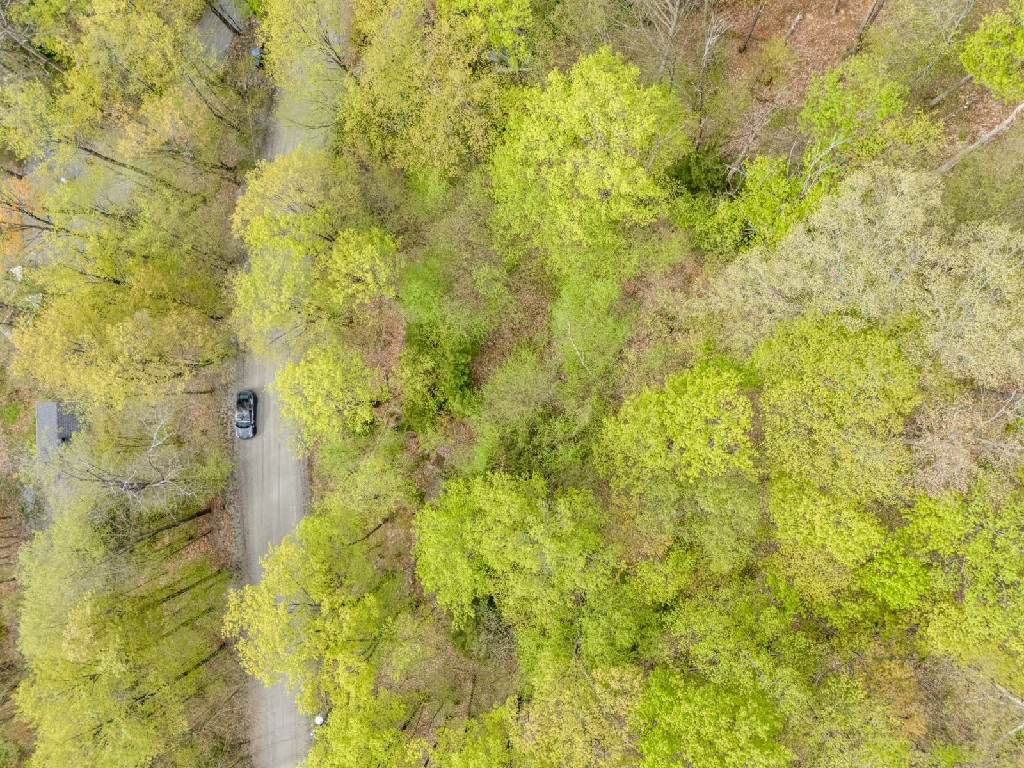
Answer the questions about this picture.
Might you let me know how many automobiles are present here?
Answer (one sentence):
The count comes to 1 automobile.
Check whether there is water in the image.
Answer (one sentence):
No, no water is visible.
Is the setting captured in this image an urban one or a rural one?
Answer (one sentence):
The area is rural.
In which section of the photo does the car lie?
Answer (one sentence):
The car appears toward the left of the photo.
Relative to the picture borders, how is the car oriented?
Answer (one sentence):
The car has been laid out vertically relative to the frame.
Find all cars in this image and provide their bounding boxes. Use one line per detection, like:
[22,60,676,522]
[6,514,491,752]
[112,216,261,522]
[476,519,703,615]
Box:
[231,391,256,439]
